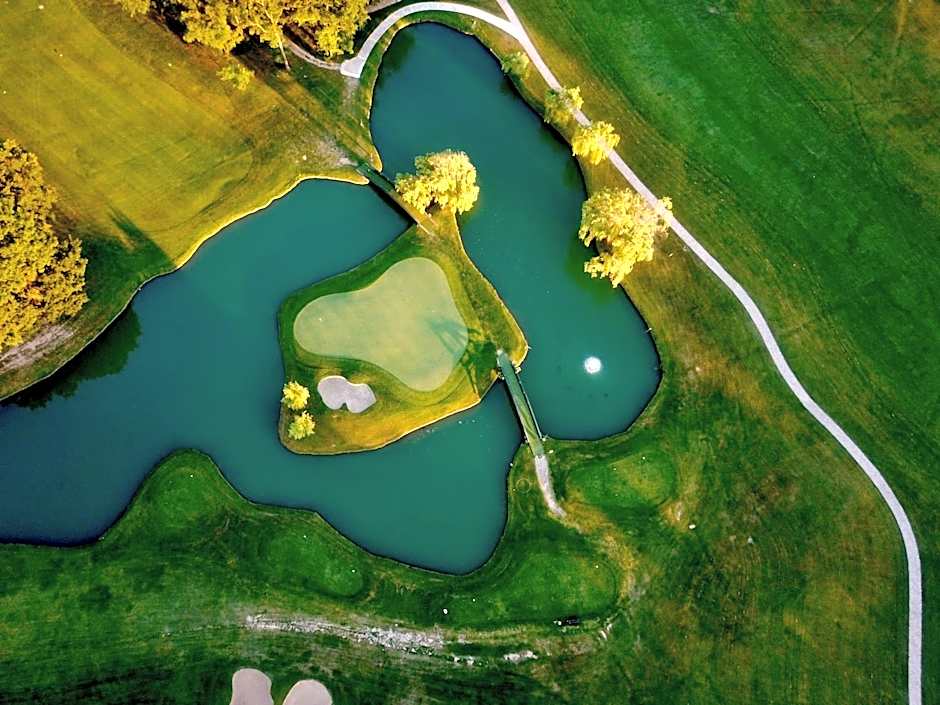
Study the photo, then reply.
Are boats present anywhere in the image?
No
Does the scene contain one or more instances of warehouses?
No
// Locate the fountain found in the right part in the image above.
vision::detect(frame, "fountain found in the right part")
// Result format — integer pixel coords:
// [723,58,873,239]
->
[580,354,604,375]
